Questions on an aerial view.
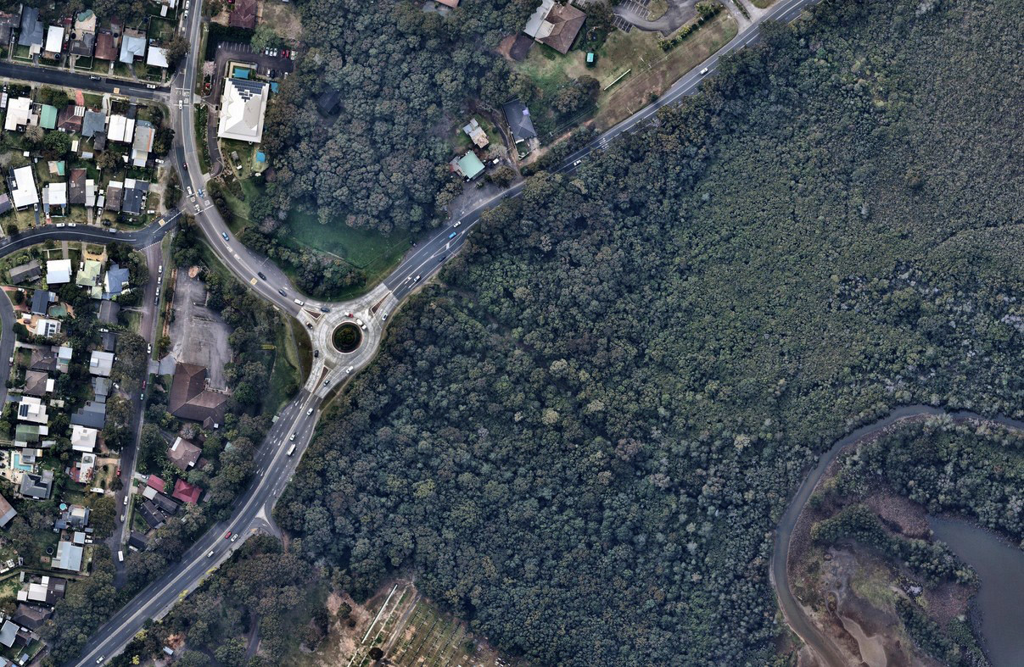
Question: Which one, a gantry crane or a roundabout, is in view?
roundabout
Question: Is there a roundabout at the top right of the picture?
No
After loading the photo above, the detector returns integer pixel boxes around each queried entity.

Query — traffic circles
[297,283,399,398]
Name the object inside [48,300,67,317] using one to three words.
swimming pool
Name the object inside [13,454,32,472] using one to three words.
swimming pool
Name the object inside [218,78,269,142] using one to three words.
building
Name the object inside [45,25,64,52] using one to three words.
house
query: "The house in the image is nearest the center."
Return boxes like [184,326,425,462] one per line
[451,150,485,178]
